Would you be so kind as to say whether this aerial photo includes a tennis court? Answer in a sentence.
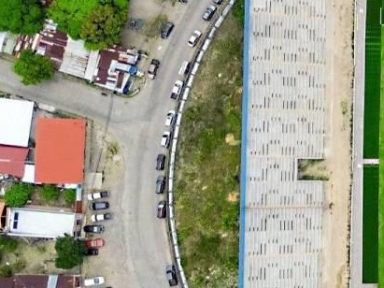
No, this view has no tennis court in it.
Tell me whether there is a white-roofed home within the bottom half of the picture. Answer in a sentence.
Yes, a white-roofed home can be seen within the bottom half of the picture.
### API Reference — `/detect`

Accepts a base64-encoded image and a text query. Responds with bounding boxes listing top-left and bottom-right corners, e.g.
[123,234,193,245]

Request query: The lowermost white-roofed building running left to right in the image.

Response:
[5,209,83,238]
